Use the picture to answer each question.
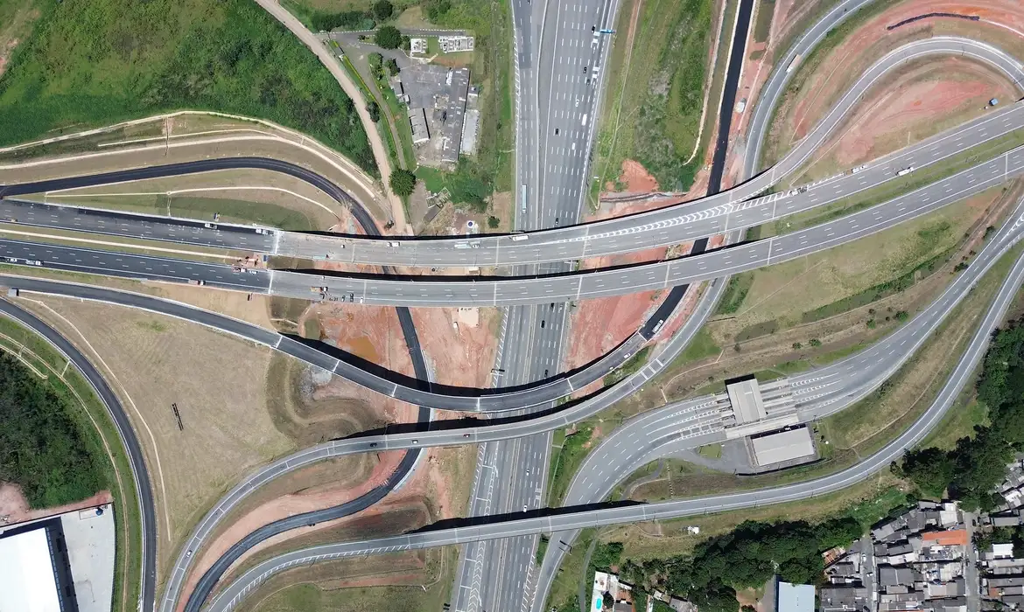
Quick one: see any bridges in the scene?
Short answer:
Yes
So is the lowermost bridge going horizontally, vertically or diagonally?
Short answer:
horizontally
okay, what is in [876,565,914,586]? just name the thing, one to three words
house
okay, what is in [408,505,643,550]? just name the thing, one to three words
bridge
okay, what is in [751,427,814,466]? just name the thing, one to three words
building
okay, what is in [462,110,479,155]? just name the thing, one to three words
shed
